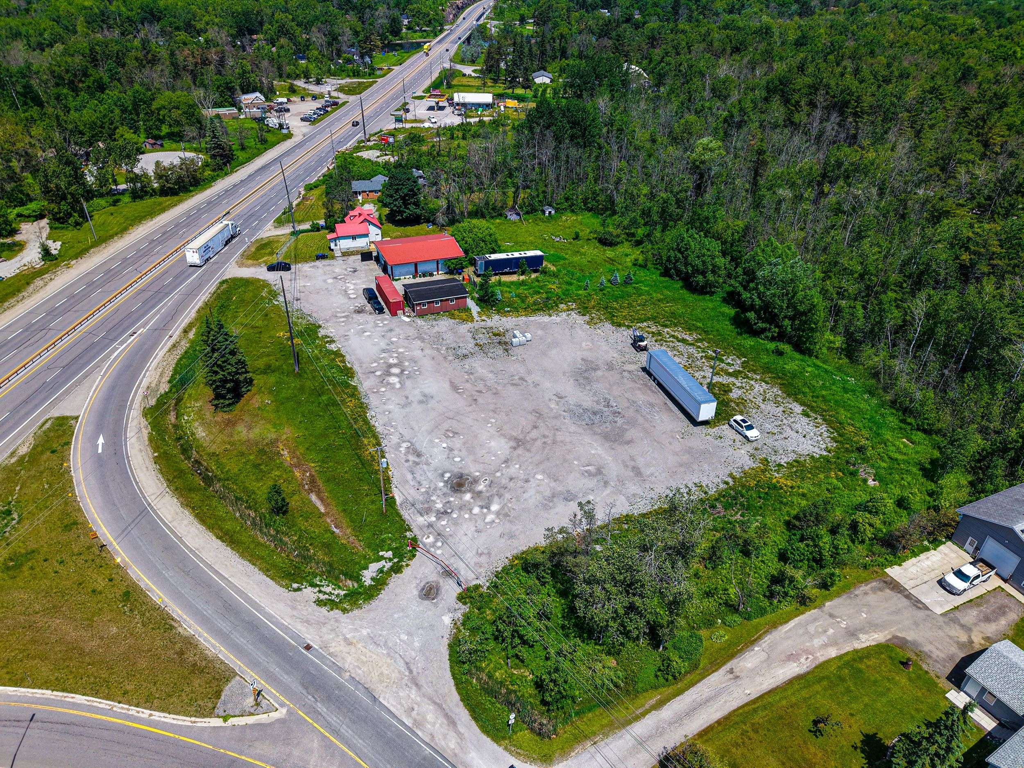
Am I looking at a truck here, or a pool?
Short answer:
truck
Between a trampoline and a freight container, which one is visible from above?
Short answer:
freight container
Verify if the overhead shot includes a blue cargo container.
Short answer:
No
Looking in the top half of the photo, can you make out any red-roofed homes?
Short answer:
Yes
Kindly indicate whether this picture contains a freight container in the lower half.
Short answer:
No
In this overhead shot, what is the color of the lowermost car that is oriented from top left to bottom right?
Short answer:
white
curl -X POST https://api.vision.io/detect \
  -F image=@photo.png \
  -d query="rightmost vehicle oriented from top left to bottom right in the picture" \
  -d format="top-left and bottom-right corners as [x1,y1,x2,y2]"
[727,414,760,441]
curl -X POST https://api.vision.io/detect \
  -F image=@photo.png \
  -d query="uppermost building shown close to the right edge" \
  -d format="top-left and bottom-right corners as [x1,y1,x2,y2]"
[952,491,1024,595]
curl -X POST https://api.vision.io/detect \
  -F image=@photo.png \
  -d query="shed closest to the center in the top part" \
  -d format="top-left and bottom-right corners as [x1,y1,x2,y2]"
[402,277,468,315]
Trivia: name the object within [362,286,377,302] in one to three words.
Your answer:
car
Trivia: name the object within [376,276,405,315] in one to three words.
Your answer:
shipping container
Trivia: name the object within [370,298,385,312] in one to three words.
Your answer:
car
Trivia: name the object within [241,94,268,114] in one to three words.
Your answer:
building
